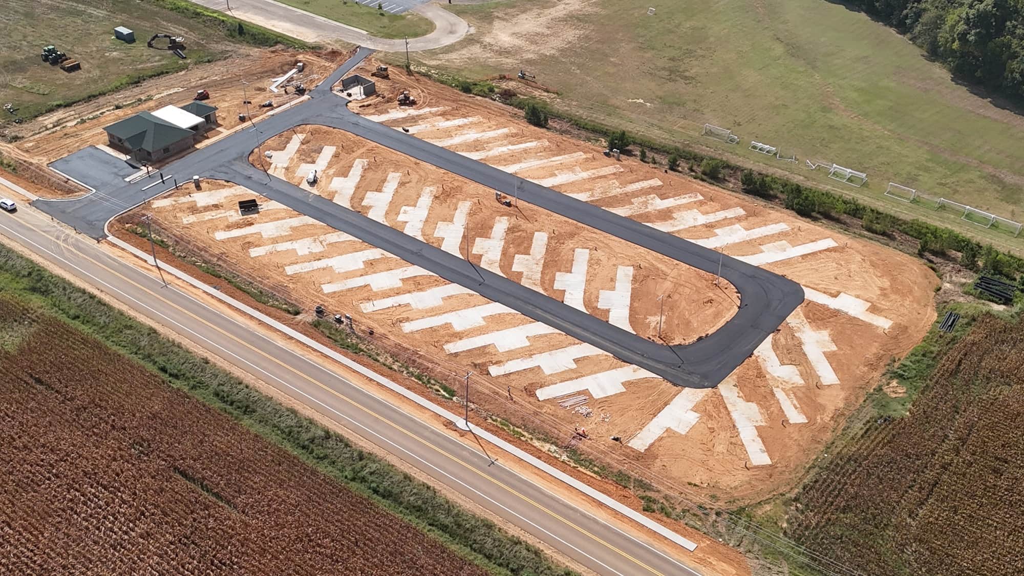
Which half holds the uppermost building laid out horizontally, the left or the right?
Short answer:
left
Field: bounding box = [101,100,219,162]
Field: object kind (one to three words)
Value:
building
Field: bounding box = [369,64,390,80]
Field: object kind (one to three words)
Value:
work vehicle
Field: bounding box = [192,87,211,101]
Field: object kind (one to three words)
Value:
work vehicle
